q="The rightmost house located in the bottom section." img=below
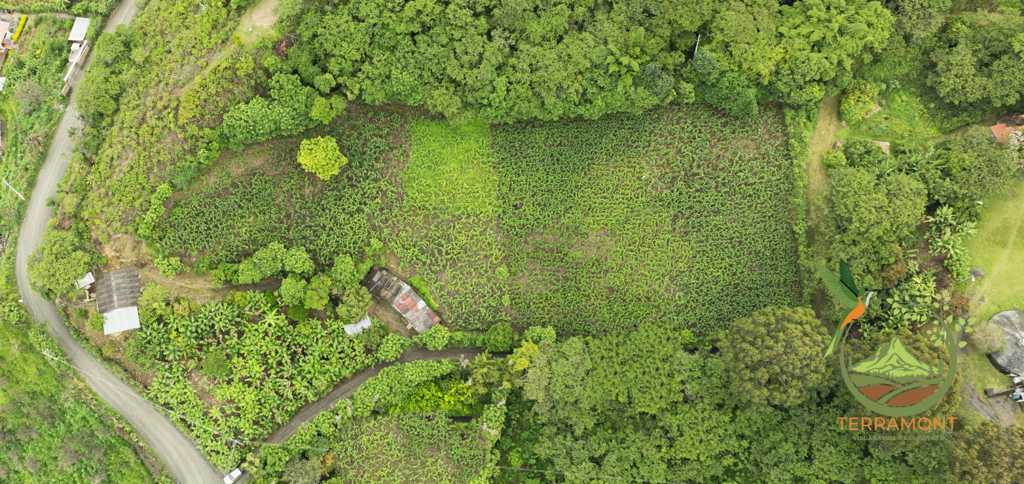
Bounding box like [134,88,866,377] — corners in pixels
[363,266,441,336]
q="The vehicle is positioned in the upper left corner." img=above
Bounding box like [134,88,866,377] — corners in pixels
[68,42,82,65]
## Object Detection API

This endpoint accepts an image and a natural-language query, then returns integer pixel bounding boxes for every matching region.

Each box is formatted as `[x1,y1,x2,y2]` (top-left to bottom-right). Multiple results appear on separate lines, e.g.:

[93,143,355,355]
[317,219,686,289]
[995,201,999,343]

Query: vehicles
[223,462,249,484]
[68,42,82,65]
